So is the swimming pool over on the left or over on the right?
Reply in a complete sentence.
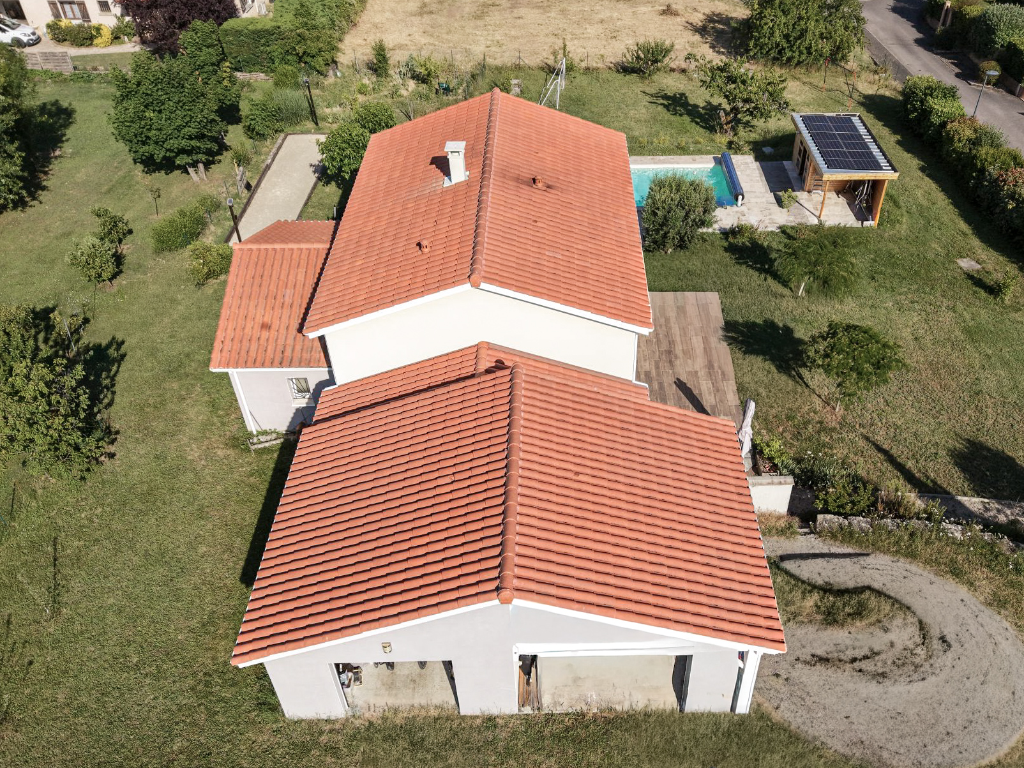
The swimming pool appears in the right half of the scene.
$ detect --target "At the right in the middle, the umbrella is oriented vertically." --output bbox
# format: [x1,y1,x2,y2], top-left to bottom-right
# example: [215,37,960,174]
[741,403,759,462]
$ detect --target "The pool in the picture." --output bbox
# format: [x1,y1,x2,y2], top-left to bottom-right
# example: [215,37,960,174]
[630,162,742,208]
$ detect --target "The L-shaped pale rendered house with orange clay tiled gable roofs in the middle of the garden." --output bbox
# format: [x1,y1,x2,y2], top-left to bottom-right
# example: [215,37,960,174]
[205,89,789,715]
